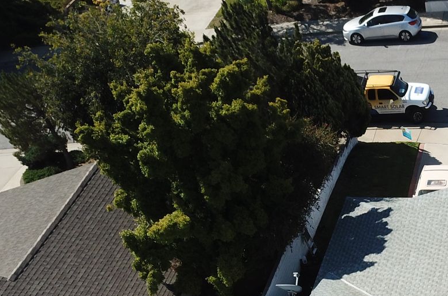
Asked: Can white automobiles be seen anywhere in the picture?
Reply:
Yes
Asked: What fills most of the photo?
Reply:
trees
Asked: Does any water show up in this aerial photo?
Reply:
No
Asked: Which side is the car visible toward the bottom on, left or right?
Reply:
right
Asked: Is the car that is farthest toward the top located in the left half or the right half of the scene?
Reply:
right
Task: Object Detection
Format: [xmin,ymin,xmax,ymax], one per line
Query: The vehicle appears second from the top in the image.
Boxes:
[325,65,437,123]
